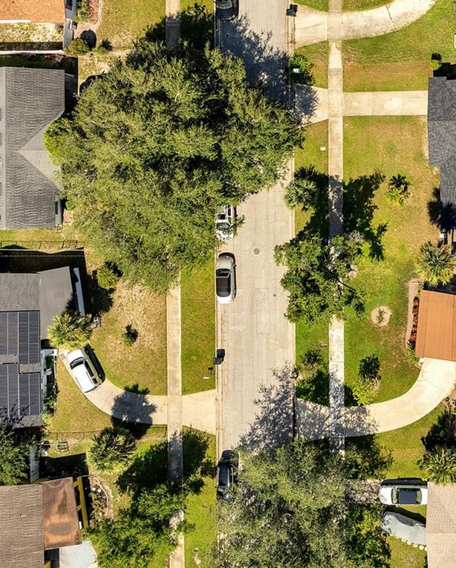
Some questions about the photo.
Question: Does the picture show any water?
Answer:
No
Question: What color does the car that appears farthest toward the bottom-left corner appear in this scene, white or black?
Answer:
white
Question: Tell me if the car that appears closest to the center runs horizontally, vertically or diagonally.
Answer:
vertically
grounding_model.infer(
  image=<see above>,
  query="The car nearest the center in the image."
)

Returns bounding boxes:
[213,252,238,304]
